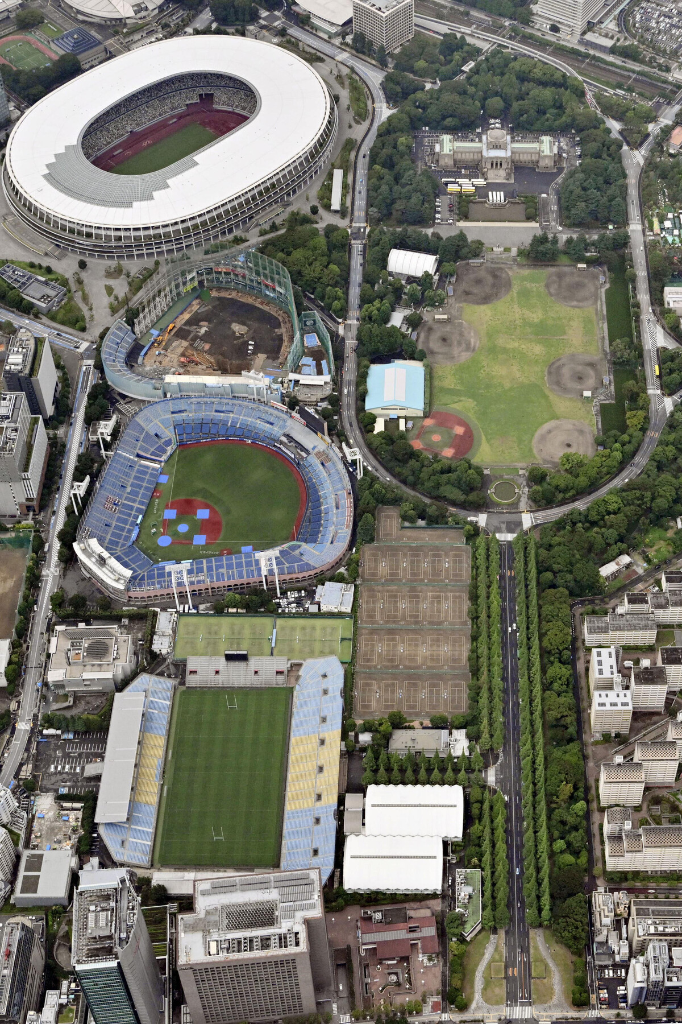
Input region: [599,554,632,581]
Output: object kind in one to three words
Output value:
house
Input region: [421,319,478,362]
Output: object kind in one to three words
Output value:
baseball field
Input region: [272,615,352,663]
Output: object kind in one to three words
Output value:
sports court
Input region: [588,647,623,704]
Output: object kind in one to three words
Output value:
building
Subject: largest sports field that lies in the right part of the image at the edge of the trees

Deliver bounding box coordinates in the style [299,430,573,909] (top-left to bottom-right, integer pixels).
[422,266,605,465]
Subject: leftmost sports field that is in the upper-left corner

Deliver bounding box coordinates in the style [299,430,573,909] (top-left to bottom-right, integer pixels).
[0,41,60,80]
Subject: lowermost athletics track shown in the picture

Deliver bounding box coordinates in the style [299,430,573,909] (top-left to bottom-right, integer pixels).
[94,107,251,172]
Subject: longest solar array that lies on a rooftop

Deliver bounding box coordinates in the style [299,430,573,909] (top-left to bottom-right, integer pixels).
[200,874,316,920]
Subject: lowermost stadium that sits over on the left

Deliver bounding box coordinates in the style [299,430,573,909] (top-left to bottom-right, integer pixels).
[83,655,345,893]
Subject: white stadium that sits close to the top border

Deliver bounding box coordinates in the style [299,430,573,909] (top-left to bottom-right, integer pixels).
[0,34,338,265]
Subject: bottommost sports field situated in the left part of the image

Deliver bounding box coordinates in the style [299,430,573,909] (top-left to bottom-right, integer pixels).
[159,689,291,864]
